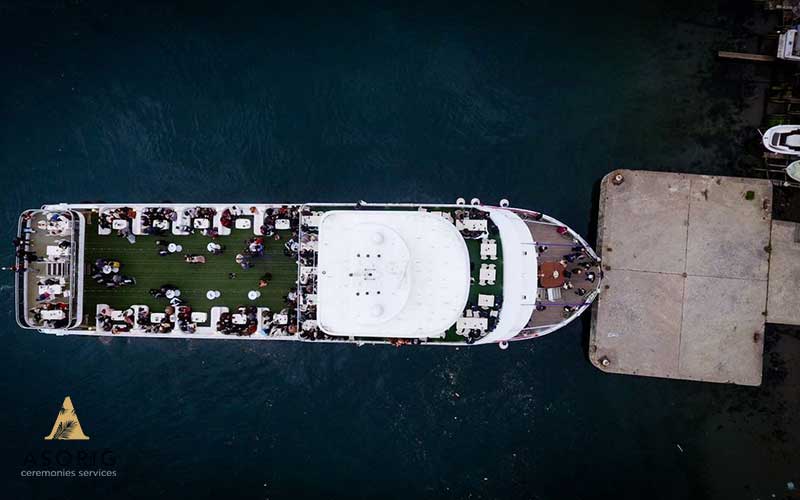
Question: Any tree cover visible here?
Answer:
No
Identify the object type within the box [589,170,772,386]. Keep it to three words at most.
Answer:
pier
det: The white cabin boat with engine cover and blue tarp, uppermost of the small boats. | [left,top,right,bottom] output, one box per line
[773,30,800,62]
